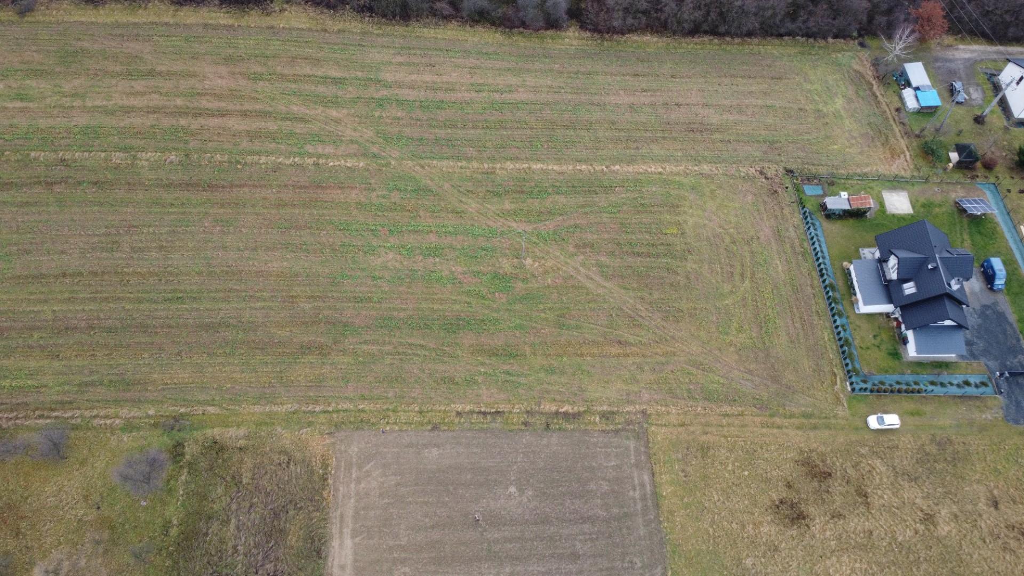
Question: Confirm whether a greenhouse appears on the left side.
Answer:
No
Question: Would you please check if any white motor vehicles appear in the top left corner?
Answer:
No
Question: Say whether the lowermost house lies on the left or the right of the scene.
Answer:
right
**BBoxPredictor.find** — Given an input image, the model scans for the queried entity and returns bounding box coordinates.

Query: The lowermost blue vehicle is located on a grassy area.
[982,257,1009,293]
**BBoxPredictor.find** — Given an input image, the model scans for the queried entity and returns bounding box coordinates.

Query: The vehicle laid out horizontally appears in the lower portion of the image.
[868,413,904,429]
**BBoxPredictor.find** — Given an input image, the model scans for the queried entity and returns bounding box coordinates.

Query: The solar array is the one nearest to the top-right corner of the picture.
[956,198,997,220]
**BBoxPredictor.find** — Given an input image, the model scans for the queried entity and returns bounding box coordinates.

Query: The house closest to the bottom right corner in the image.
[850,220,976,356]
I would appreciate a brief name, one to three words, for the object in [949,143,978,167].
building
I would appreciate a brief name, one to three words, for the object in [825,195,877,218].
shed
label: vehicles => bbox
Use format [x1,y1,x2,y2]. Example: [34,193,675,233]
[868,413,904,429]
[982,257,1009,293]
[948,81,967,105]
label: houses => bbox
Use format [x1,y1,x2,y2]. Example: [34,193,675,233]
[1000,59,1024,117]
[850,220,976,356]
